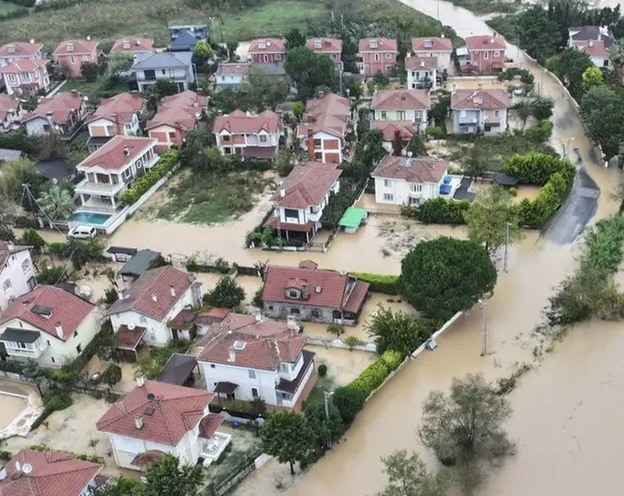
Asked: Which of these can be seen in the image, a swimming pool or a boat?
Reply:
swimming pool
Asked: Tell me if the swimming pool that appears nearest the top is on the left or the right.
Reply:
left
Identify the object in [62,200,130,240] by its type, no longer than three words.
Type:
swimming pool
